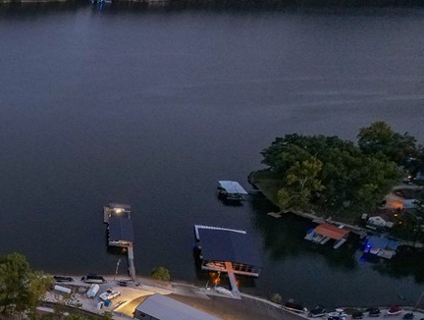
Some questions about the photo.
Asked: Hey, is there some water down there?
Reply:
Yes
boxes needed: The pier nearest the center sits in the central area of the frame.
[216,181,247,202]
